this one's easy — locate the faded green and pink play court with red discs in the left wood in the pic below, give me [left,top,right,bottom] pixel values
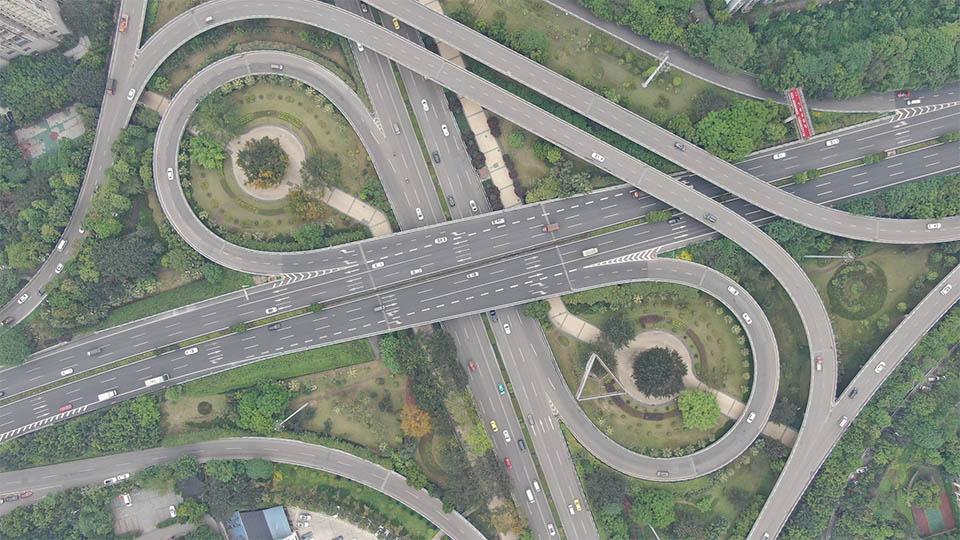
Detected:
[14,110,85,157]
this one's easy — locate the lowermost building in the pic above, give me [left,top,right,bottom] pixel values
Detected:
[225,502,310,540]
